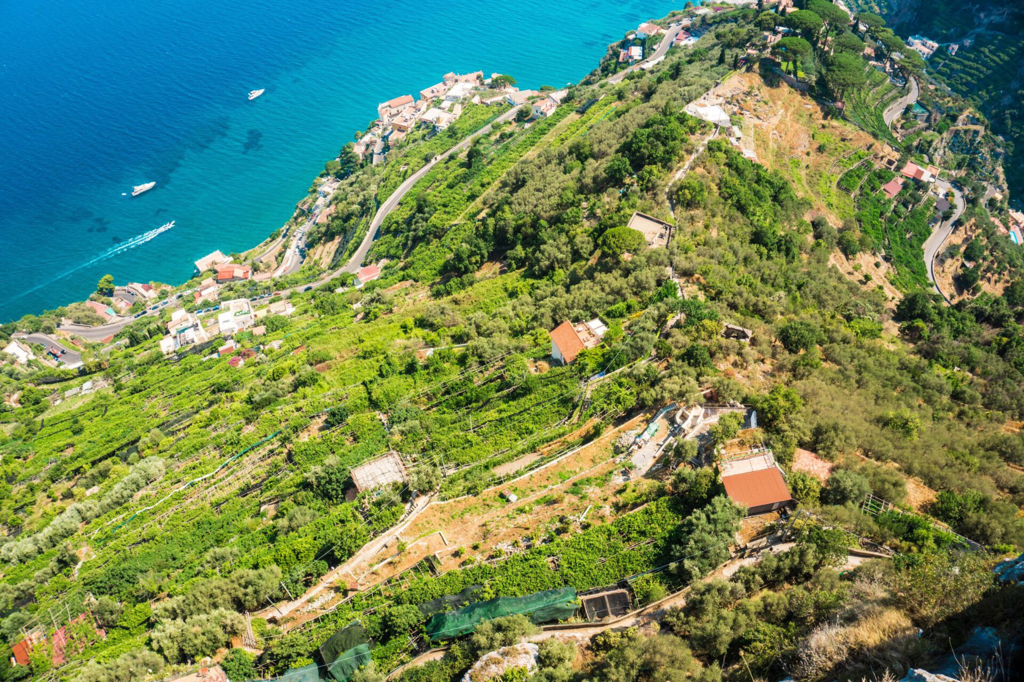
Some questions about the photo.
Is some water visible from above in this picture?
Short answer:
Yes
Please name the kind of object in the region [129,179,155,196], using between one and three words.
boat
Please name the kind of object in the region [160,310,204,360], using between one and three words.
house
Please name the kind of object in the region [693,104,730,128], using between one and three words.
house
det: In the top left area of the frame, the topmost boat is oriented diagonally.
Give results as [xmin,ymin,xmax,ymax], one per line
[245,85,264,100]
